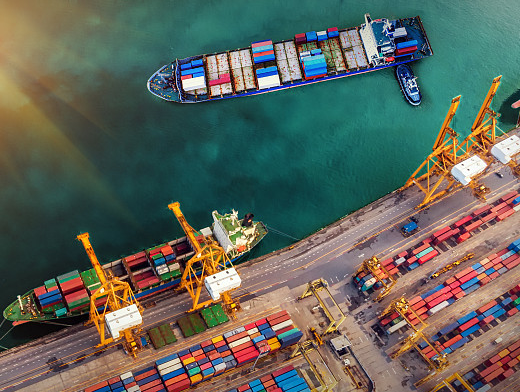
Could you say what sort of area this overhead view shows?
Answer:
port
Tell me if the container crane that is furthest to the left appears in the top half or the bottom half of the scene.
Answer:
bottom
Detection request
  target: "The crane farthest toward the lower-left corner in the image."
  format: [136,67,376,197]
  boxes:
[81,225,150,360]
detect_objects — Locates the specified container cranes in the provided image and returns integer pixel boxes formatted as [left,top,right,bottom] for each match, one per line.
[426,71,520,196]
[287,340,344,392]
[347,255,401,307]
[81,225,150,360]
[296,279,349,339]
[422,372,474,392]
[168,194,240,321]
[391,335,455,388]
[389,91,493,215]
[374,297,433,349]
